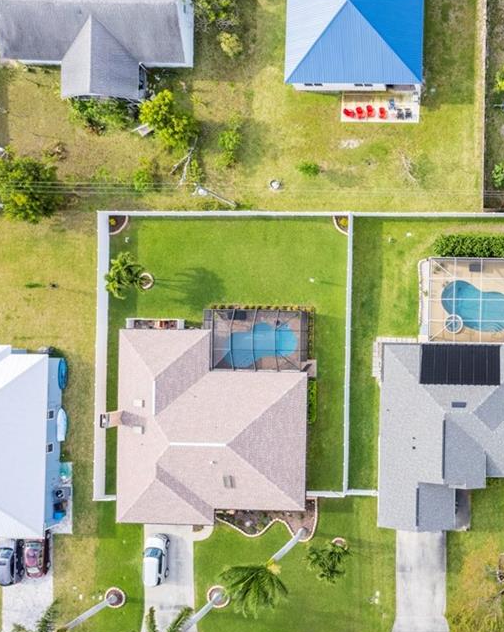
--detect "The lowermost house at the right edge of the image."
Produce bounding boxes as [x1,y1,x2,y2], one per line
[377,343,504,531]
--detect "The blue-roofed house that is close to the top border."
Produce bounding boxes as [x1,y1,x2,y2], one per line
[284,0,424,91]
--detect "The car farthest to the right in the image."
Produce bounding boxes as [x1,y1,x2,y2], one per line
[142,533,170,585]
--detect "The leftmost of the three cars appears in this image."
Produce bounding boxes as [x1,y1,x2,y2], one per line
[0,538,25,587]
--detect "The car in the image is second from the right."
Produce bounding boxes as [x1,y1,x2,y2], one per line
[23,529,51,576]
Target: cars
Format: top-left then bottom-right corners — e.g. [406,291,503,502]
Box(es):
[142,533,170,585]
[23,529,51,576]
[0,538,25,587]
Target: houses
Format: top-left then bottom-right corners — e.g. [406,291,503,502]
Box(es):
[0,337,64,539]
[0,0,193,102]
[100,328,310,524]
[377,343,504,531]
[284,0,424,91]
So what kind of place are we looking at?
residential area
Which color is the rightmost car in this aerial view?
white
